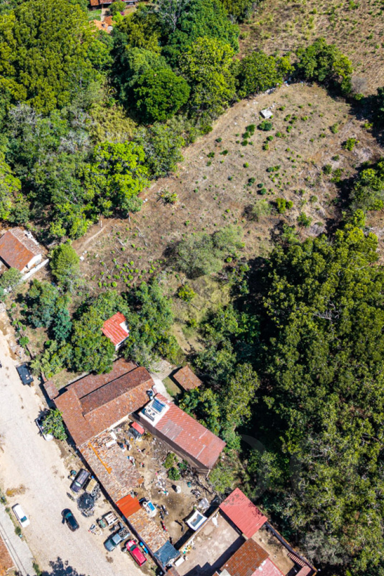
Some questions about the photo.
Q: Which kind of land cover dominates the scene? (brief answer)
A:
trees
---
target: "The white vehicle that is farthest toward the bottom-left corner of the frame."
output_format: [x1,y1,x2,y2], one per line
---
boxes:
[12,502,30,530]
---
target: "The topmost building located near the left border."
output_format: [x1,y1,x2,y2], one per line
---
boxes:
[0,229,44,278]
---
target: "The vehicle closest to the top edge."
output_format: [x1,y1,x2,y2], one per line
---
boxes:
[16,361,32,386]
